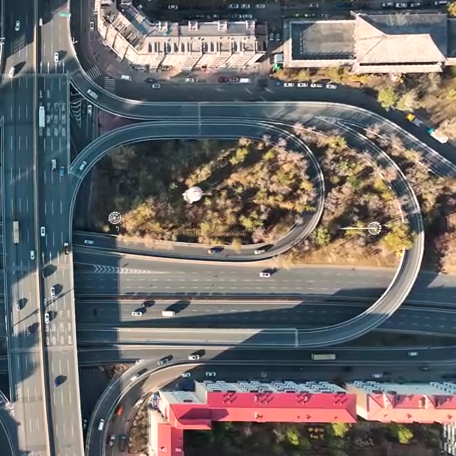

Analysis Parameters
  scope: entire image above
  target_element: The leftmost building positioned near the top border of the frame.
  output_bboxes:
[87,0,269,71]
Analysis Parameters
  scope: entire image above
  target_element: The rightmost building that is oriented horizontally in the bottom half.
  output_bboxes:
[335,377,456,423]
